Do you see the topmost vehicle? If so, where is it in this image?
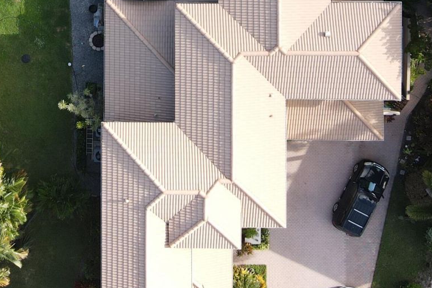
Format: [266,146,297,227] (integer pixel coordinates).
[334,157,389,243]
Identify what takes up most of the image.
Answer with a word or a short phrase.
buildings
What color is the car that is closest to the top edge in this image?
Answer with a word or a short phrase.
black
